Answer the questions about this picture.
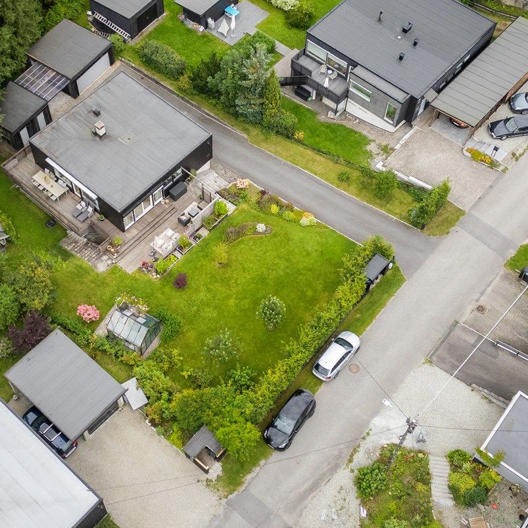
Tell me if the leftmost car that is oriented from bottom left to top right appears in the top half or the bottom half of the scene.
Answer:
bottom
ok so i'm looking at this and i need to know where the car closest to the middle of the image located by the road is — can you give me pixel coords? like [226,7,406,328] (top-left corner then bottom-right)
[310,328,362,385]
